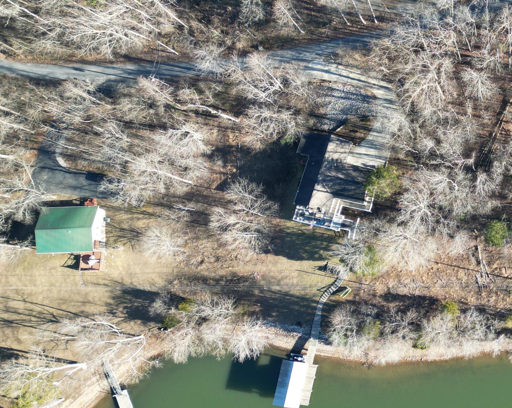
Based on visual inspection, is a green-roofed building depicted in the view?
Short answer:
Yes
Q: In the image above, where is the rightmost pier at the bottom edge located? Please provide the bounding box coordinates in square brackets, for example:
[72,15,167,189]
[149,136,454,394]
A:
[301,365,321,406]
